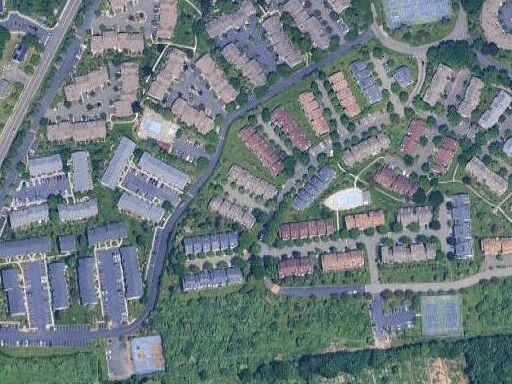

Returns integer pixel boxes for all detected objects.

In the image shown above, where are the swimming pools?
[139,109,178,145]
[325,188,363,210]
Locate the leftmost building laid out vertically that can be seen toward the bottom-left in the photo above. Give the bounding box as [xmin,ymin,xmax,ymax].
[0,268,26,317]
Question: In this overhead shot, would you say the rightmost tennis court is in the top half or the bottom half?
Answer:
bottom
